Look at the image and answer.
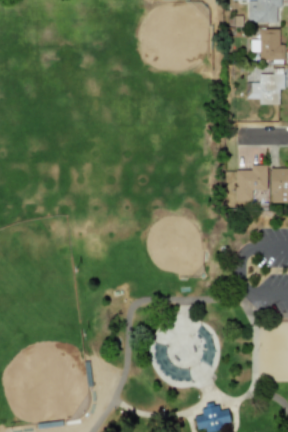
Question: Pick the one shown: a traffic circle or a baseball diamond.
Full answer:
Visible in the photo is a baseball diamond.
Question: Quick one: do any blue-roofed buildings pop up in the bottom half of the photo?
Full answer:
Yes, there is a blue-roofed building in the bottom half of the photo.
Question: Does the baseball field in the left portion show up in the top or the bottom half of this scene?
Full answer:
The baseball field in the left portion is in the bottom half of the image.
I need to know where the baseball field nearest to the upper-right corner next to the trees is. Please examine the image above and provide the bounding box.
[139,0,214,72]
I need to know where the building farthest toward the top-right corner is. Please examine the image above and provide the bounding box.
[250,0,284,24]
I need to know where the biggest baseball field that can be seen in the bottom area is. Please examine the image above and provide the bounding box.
[0,215,90,424]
